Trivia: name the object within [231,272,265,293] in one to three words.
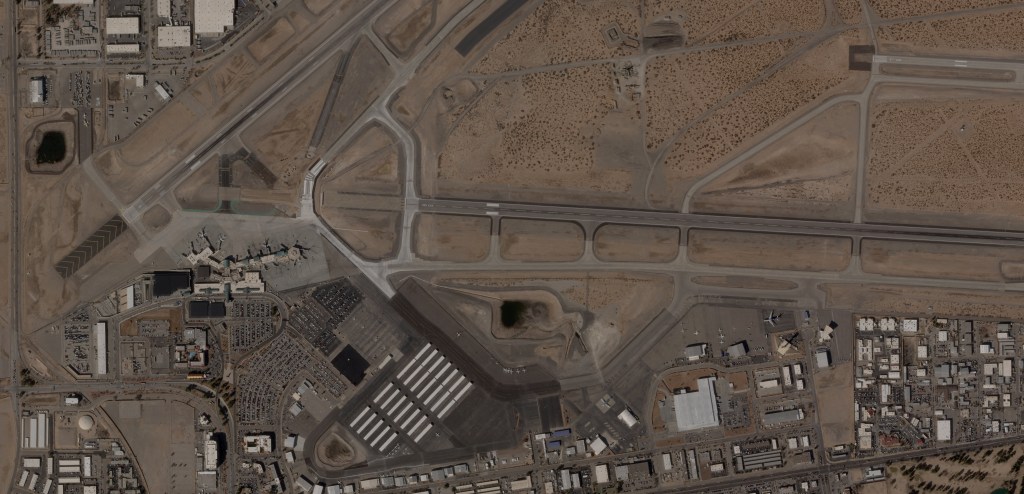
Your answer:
building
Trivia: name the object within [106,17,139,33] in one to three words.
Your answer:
building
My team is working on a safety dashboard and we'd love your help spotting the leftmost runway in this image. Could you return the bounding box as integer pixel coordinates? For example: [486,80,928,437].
[122,0,398,222]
